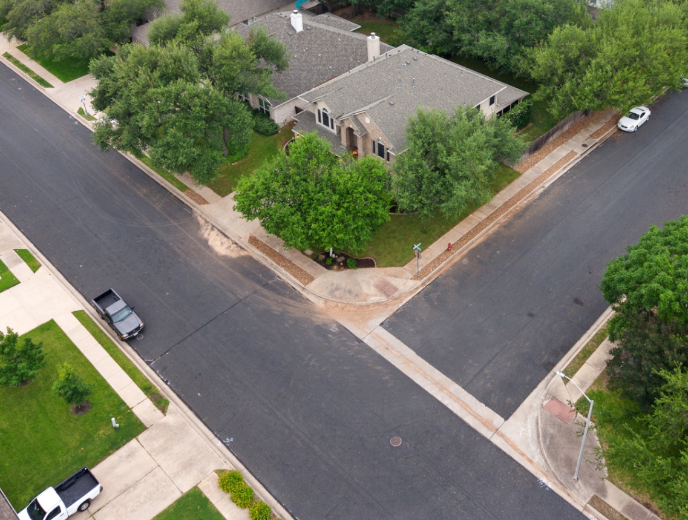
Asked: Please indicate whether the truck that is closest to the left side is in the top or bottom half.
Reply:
bottom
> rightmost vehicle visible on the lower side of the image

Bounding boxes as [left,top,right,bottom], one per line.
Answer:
[91,285,152,343]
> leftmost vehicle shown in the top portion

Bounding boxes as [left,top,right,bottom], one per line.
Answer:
[619,107,655,136]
